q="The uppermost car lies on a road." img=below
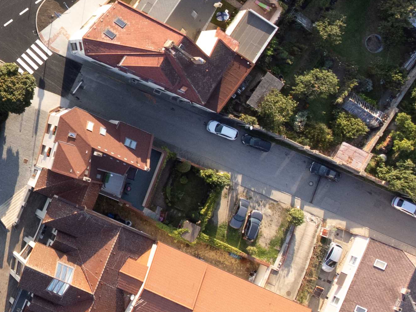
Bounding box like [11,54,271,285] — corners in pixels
[204,119,240,142]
